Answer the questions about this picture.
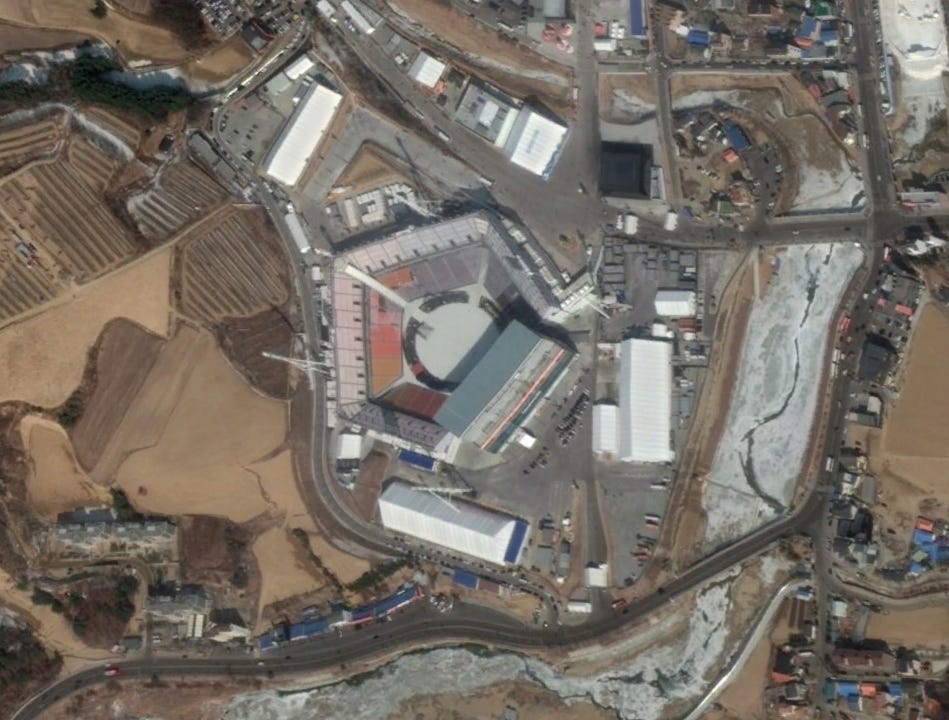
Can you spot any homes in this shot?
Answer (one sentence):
Yes, there's a home down there.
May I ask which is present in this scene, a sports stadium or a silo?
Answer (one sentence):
There is a sports stadium in the scene.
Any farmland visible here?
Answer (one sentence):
Yes, some farmland is visible.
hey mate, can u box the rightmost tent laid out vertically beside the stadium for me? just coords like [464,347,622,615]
[617,335,675,461]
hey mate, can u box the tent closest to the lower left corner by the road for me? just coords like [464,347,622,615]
[381,484,533,566]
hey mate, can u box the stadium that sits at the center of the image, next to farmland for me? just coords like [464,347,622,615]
[334,212,576,457]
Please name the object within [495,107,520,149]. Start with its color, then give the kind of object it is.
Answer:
white tent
